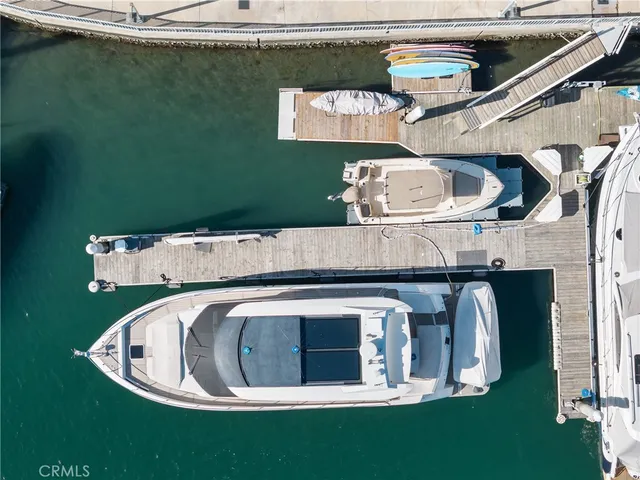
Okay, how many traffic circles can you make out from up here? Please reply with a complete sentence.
The count of traffic circles is 0.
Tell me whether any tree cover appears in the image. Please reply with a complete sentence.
No, the scene doesn't show any tree cover.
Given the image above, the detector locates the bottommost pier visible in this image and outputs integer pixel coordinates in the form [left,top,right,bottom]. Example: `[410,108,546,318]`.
[93,84,640,421]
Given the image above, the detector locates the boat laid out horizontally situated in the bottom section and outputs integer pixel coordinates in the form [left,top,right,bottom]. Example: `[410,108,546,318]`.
[71,282,491,411]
